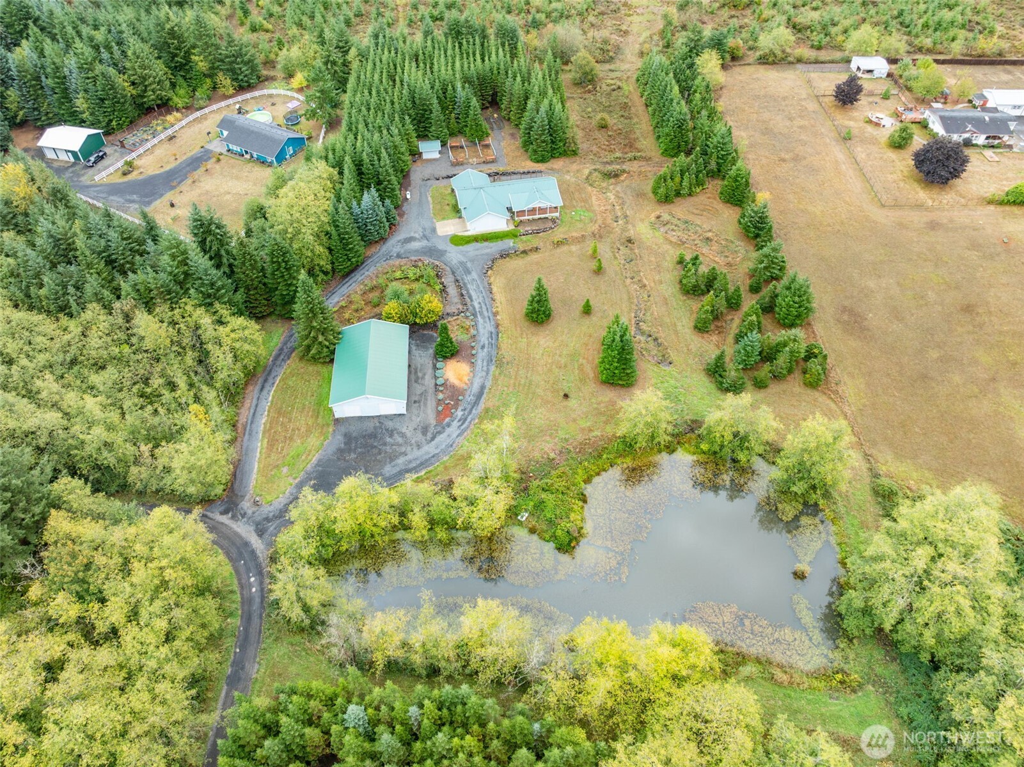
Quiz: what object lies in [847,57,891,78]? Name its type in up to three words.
shed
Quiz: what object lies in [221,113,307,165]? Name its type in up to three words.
house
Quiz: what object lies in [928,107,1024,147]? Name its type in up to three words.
house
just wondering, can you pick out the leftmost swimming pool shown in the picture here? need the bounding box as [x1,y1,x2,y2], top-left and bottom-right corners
[245,108,273,122]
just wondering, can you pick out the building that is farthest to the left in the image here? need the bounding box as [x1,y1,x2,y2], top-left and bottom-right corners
[37,125,107,163]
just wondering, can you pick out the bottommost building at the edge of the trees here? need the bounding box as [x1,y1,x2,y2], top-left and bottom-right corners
[329,318,410,418]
